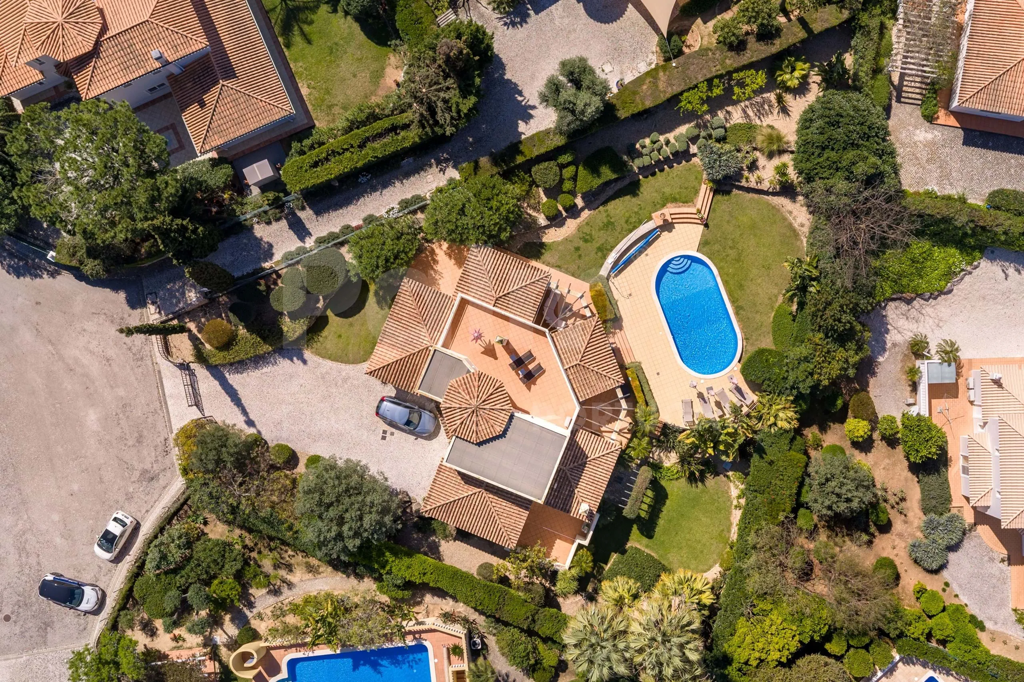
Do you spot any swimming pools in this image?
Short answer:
Yes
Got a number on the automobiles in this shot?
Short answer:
3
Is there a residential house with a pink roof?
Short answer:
No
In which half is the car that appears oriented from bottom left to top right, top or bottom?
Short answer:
bottom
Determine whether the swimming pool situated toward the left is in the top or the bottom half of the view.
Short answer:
bottom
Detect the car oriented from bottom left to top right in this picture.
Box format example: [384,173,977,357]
[93,511,134,563]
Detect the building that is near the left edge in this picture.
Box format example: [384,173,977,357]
[0,0,302,157]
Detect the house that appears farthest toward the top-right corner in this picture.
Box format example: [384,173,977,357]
[947,0,1024,123]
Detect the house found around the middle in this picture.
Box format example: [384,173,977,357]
[364,243,625,570]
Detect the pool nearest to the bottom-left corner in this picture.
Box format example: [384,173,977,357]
[282,639,437,682]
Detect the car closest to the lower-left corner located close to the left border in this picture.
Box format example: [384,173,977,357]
[46,575,102,607]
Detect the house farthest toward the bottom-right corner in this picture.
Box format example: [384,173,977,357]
[953,365,1024,530]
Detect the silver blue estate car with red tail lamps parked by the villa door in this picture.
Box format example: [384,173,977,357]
[376,397,437,432]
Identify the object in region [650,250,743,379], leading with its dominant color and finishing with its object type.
blue swimming pool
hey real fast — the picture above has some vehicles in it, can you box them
[376,397,437,432]
[46,575,102,607]
[93,511,134,563]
